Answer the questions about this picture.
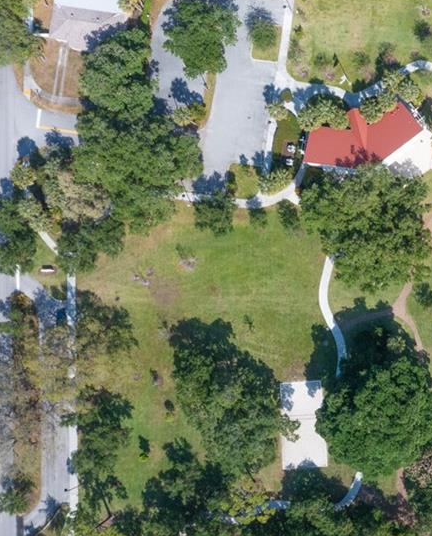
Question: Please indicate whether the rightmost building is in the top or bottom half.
top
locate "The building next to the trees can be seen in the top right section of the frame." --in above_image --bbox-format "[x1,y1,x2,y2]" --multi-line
[303,102,423,170]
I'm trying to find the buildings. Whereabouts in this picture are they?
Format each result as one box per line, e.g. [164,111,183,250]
[303,102,423,170]
[38,0,127,54]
